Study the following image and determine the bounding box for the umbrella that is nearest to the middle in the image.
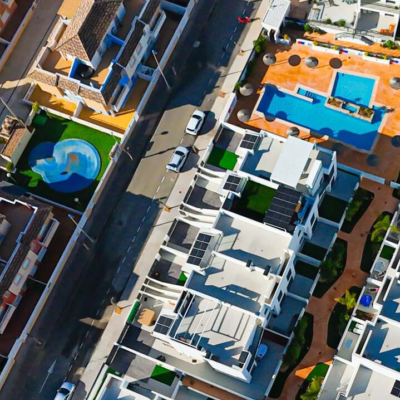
[236,109,252,124]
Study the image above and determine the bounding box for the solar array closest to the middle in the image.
[219,174,238,196]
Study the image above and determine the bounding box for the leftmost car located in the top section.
[164,145,191,173]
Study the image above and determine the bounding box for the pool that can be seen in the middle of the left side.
[29,134,98,186]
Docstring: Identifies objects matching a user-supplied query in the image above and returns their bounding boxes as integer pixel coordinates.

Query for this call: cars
[52,381,77,400]
[164,145,191,173]
[184,109,206,137]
